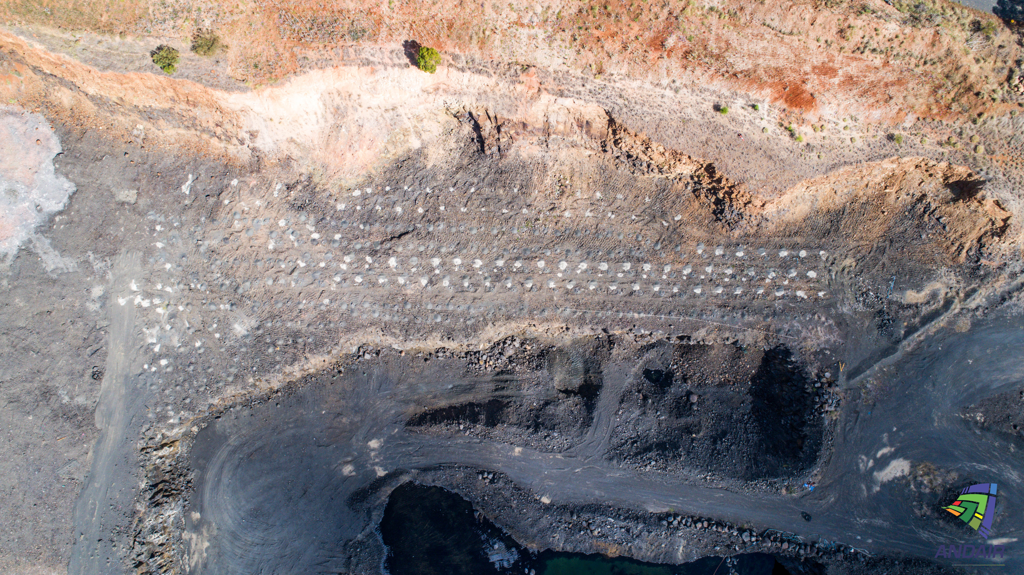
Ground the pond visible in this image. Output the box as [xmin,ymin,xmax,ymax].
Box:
[378,481,789,575]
